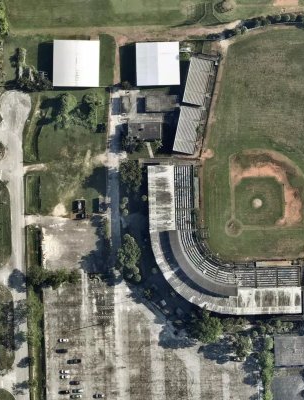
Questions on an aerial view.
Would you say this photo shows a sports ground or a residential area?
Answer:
sports ground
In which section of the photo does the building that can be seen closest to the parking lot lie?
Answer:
bottom right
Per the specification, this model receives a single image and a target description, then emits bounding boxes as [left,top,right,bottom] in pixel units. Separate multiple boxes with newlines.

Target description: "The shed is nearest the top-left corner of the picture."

[53,40,100,87]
